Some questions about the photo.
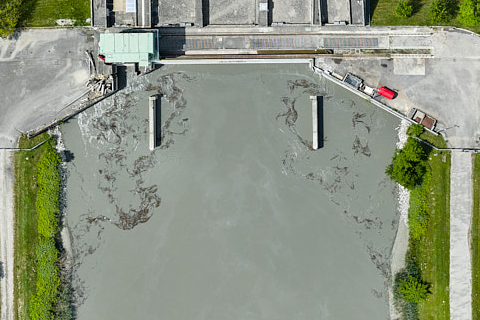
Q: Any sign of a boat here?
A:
No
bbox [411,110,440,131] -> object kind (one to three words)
truck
